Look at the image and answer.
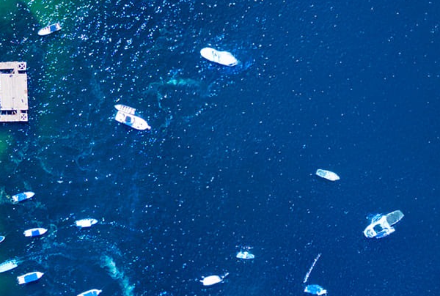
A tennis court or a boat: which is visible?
boat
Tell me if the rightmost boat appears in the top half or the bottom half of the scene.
bottom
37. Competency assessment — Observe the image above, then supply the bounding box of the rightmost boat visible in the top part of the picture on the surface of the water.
[200,48,241,69]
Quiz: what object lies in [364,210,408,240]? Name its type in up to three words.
boat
